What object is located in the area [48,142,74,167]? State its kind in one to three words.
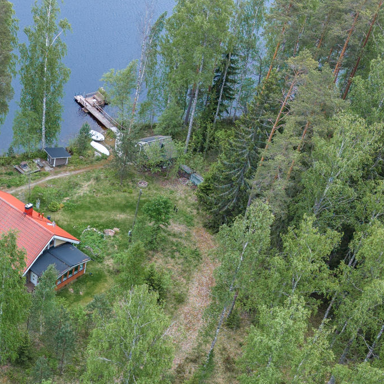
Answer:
shed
